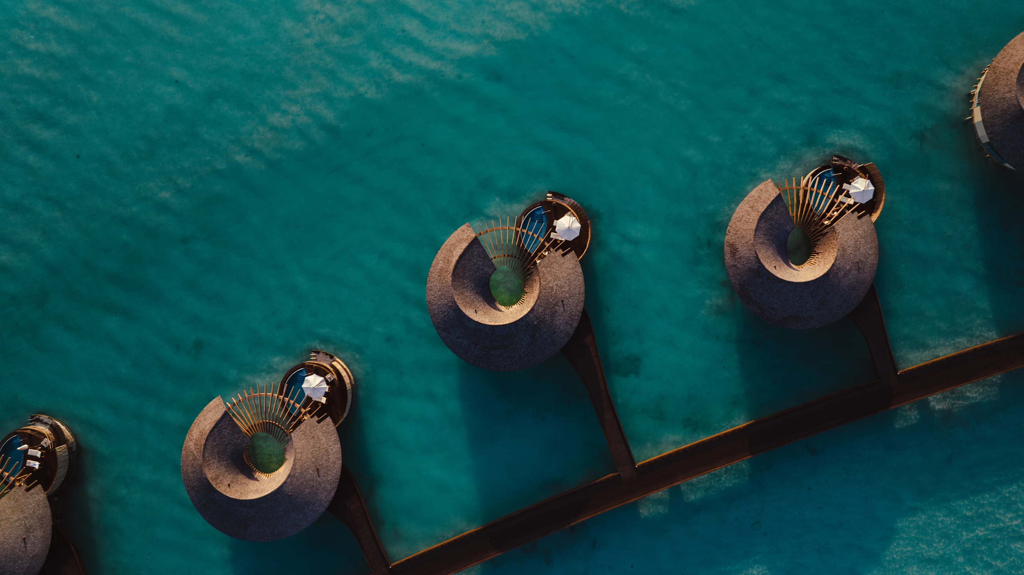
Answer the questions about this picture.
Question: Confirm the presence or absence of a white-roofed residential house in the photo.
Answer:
No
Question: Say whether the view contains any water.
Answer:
Yes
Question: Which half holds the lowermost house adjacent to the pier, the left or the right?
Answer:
left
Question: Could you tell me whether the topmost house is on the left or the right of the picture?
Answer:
right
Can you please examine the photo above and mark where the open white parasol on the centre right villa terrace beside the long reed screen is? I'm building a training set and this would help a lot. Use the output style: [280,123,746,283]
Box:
[849,173,874,204]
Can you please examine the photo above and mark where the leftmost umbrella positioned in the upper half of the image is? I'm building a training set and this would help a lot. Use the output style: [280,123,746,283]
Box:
[555,211,581,241]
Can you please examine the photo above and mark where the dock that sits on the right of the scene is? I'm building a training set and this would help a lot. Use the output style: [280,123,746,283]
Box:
[364,330,1024,575]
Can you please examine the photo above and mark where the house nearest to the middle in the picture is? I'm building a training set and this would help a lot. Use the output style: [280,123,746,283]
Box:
[426,216,585,372]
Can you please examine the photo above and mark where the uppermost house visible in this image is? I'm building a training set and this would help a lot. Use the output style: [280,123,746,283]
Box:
[966,31,1024,172]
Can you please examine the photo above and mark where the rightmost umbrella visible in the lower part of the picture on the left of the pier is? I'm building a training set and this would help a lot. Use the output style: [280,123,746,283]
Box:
[302,373,334,399]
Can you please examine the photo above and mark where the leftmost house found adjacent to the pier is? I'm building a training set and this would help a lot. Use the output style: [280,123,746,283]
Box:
[182,385,342,544]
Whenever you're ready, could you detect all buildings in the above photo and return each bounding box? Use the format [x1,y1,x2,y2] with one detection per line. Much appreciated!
[0,457,58,575]
[426,216,585,372]
[966,31,1024,172]
[723,179,878,329]
[182,385,342,544]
